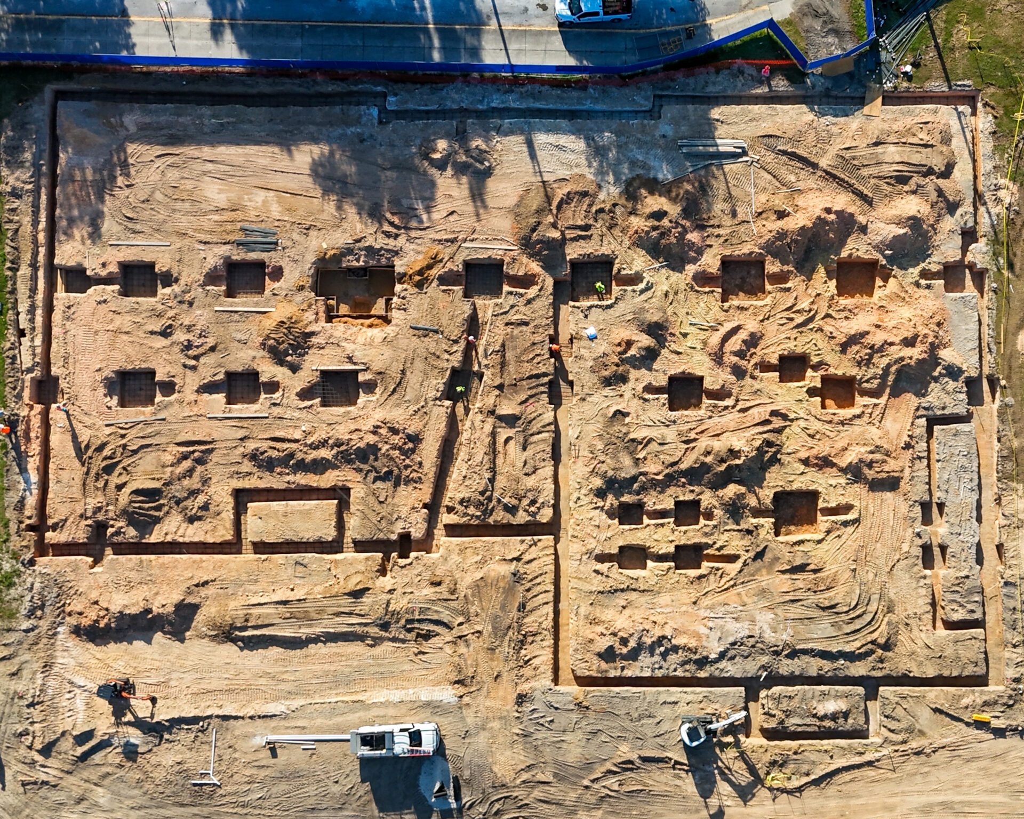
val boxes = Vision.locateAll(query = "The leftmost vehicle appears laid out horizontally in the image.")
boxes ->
[95,678,156,706]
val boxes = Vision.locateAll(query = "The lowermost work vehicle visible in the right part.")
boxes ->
[681,708,749,746]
